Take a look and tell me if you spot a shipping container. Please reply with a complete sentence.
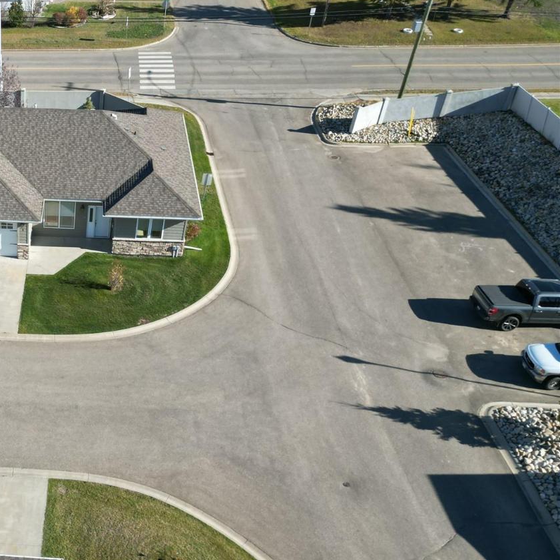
No, no shipping container is visible in the view.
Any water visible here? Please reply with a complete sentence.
No, water can't be seen anywhere here.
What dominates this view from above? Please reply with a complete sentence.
Most of the picture is covered by paved ground.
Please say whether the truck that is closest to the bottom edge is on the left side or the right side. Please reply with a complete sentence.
It is on the right.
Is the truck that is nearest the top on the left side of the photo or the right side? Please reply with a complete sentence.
The truck that is nearest the top appears in the right half of the scene.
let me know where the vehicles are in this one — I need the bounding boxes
[517,336,560,390]
[468,274,560,329]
